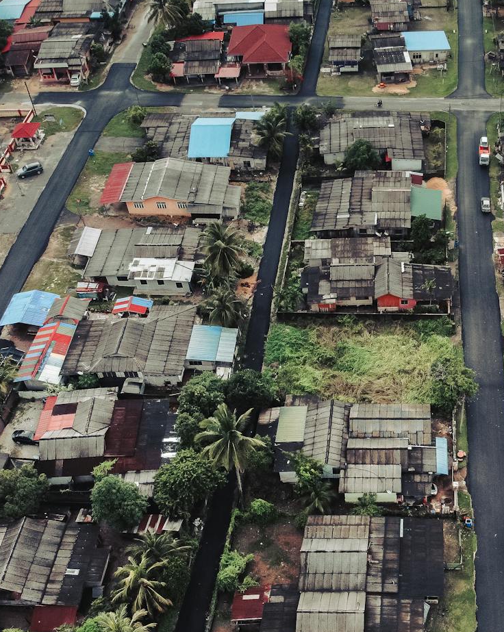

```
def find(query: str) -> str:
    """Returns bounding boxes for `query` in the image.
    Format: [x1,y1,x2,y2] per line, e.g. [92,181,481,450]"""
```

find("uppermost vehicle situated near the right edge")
[477,135,490,160]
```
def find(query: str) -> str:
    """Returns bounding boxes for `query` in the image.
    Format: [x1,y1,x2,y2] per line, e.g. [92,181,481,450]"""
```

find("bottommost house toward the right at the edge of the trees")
[231,515,444,632]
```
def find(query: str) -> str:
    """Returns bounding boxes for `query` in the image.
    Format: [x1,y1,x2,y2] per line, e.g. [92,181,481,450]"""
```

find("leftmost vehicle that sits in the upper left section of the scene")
[16,157,43,175]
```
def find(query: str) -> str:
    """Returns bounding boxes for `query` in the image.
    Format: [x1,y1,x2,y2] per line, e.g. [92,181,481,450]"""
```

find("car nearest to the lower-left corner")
[7,427,41,445]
